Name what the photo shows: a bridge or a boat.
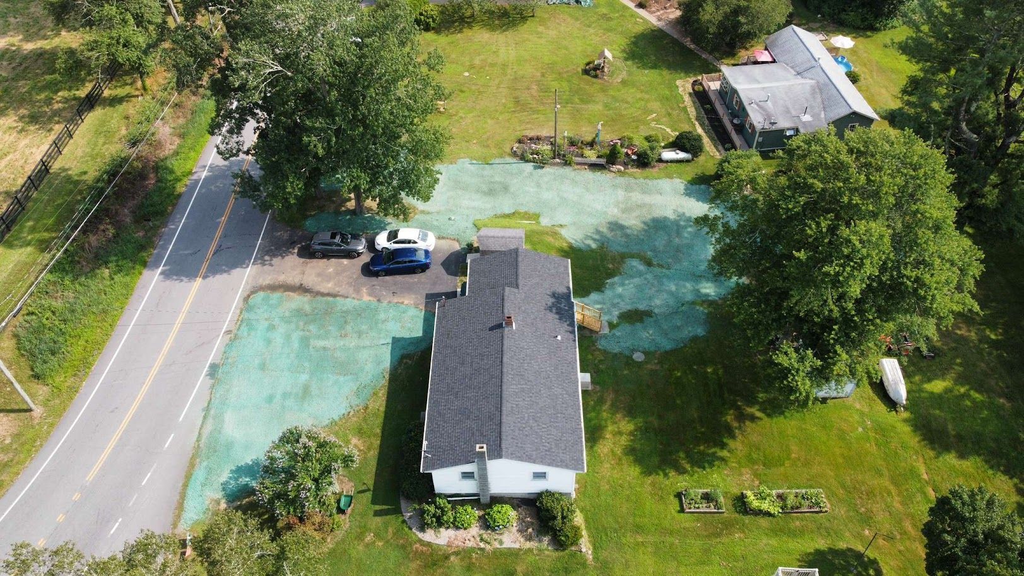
boat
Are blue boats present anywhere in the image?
No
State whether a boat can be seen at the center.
No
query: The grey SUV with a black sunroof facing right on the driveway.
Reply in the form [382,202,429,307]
[305,229,367,260]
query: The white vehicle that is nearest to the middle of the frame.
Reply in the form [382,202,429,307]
[372,225,435,252]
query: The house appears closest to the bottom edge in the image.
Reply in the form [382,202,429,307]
[417,247,588,505]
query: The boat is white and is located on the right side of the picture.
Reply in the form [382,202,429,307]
[875,358,907,407]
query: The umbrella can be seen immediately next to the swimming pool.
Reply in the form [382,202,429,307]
[828,37,856,55]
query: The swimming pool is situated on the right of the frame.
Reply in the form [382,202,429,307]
[832,57,861,75]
